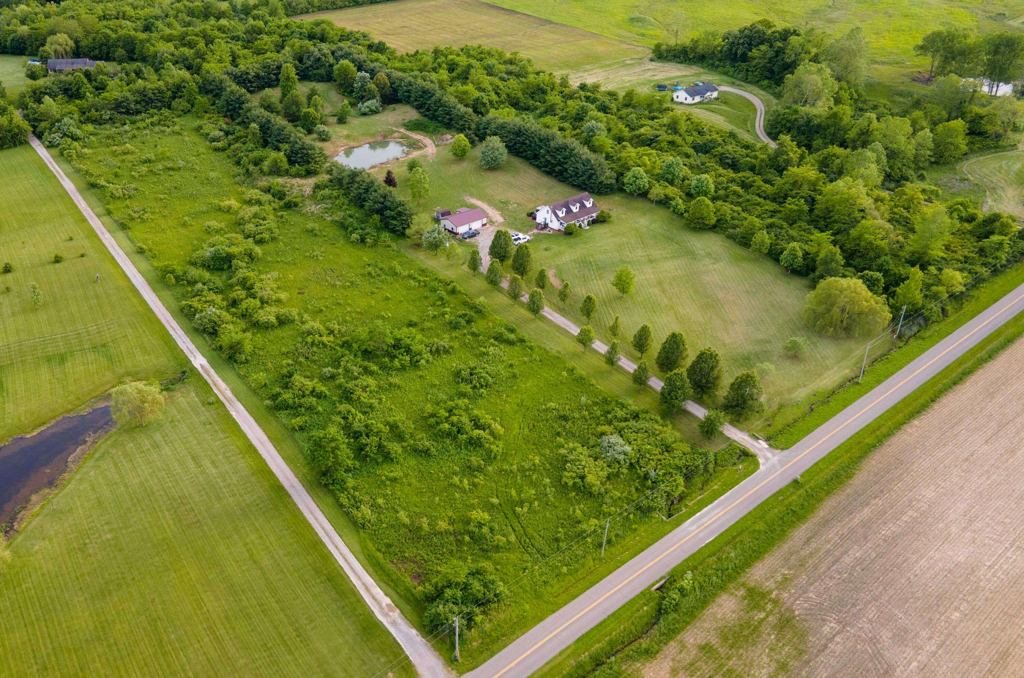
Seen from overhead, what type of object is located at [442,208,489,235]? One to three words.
building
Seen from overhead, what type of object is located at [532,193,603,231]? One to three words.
house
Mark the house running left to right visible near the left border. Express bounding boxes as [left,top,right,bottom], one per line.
[45,60,113,76]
